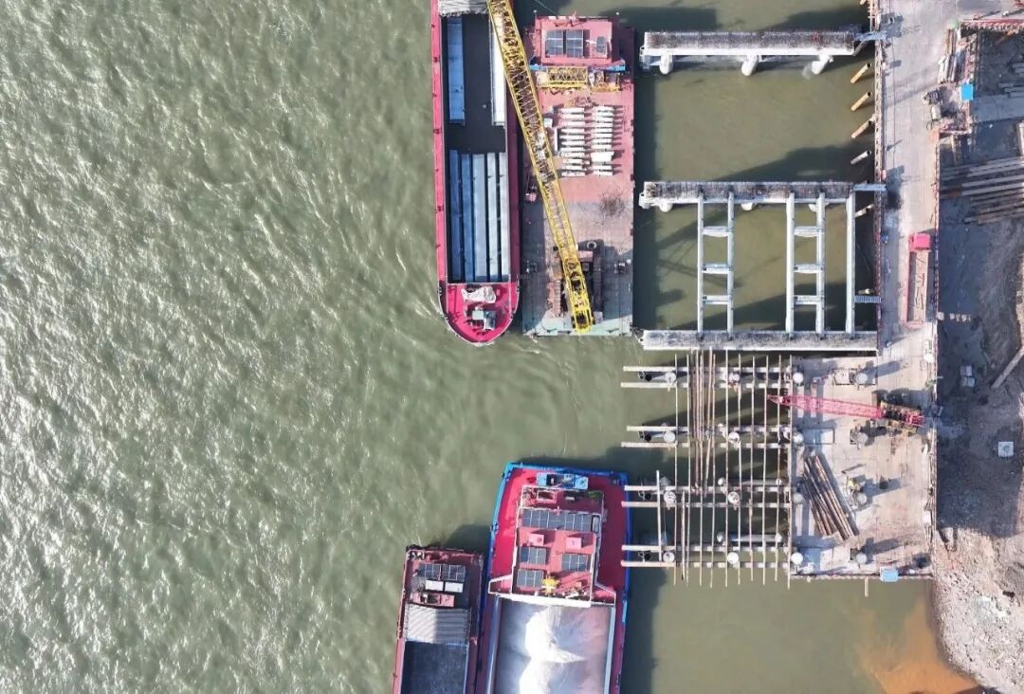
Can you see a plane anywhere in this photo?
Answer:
No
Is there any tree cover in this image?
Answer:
No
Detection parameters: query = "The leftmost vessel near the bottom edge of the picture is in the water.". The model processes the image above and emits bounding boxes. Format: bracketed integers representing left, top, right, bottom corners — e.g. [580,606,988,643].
[391,543,485,694]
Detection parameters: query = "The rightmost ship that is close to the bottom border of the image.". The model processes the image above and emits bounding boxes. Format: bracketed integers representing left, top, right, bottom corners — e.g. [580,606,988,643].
[481,462,629,694]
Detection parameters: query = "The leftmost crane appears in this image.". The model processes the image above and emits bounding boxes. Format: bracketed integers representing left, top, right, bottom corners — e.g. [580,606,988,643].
[487,0,604,331]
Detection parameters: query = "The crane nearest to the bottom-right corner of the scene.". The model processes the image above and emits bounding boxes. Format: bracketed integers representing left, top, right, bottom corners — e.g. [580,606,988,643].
[746,388,928,430]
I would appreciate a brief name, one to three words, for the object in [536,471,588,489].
boat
